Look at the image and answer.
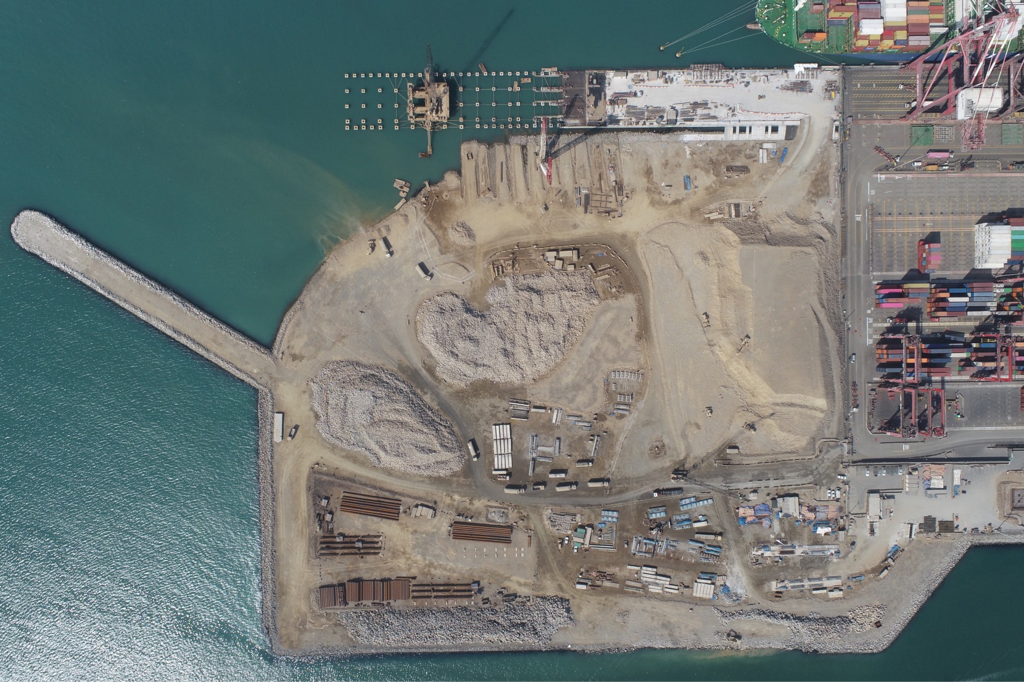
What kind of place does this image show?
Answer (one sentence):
This looks like a port.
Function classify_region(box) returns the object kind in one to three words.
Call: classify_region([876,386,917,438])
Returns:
container crane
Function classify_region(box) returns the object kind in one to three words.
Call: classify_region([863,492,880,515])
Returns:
building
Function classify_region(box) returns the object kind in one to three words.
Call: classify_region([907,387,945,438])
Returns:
container crane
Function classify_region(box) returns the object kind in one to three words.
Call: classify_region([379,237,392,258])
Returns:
vehicle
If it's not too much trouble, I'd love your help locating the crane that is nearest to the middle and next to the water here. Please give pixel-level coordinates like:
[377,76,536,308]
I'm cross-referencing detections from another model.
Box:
[540,115,552,185]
